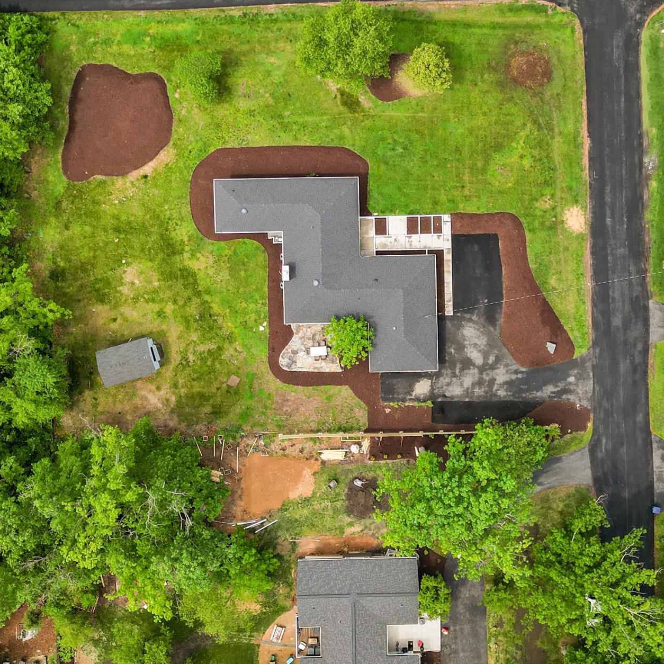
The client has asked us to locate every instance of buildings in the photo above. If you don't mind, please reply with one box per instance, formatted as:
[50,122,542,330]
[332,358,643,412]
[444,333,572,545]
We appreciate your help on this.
[213,176,438,374]
[292,552,442,664]
[95,340,166,387]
